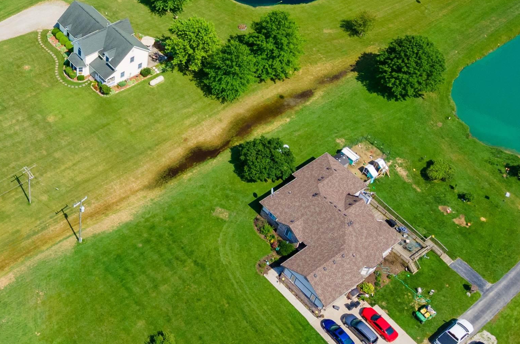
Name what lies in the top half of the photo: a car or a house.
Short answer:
house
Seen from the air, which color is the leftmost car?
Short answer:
blue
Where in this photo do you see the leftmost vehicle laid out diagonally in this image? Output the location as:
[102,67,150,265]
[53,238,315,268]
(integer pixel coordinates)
[319,316,355,344]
